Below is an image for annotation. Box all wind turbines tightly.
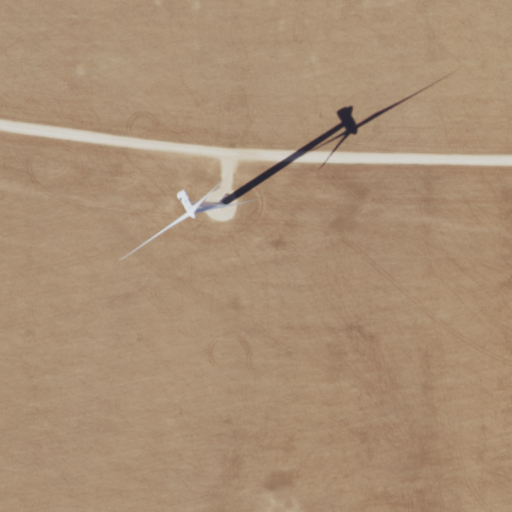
[118,182,257,260]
